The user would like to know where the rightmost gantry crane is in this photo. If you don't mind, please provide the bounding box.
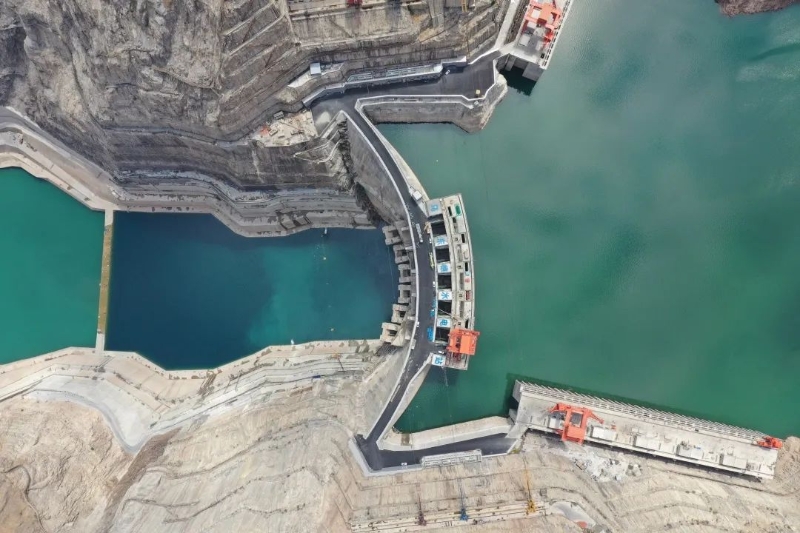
[552,396,598,445]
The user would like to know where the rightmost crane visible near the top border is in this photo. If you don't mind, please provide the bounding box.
[514,0,567,48]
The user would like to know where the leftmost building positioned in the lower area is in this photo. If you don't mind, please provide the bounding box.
[422,448,482,467]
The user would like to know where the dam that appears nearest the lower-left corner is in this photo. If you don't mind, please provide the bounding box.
[95,209,114,353]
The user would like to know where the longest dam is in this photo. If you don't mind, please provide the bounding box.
[341,106,474,440]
